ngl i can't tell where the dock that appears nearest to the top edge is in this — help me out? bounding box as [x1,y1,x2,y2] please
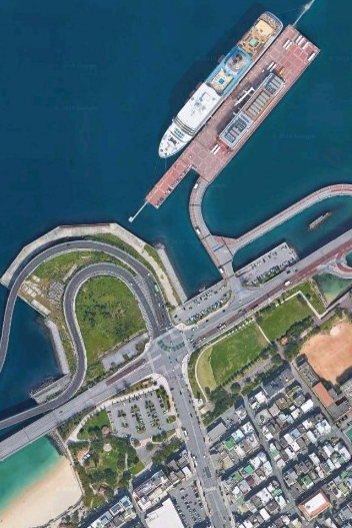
[146,25,321,209]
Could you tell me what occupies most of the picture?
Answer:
water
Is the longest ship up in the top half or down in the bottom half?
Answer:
top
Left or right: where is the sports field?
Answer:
right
